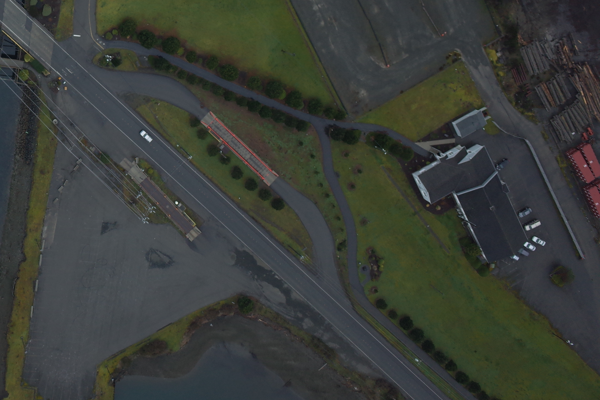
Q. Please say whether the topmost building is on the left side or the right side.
right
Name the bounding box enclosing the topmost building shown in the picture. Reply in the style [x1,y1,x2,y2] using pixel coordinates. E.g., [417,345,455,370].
[451,105,491,138]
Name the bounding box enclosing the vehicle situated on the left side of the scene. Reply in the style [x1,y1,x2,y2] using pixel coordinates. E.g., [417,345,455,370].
[139,129,155,145]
